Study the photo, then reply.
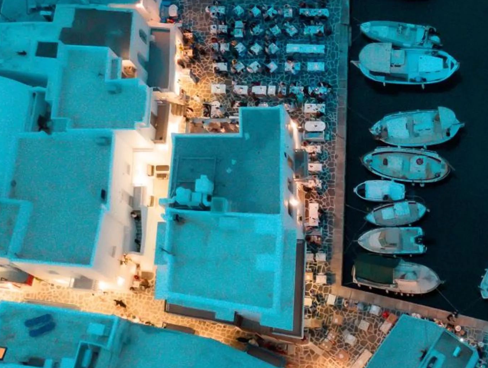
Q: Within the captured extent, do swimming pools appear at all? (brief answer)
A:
No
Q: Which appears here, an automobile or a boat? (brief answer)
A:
boat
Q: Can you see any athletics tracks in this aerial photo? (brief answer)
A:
No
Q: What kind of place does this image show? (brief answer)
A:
residential area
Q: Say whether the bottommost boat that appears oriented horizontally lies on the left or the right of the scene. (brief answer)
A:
right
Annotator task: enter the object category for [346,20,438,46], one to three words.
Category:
boat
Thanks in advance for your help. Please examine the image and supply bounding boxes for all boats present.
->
[351,257,480,319]
[346,44,461,90]
[343,108,482,150]
[342,228,441,258]
[341,180,406,203]
[340,203,429,234]
[344,148,458,187]
[346,20,438,46]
